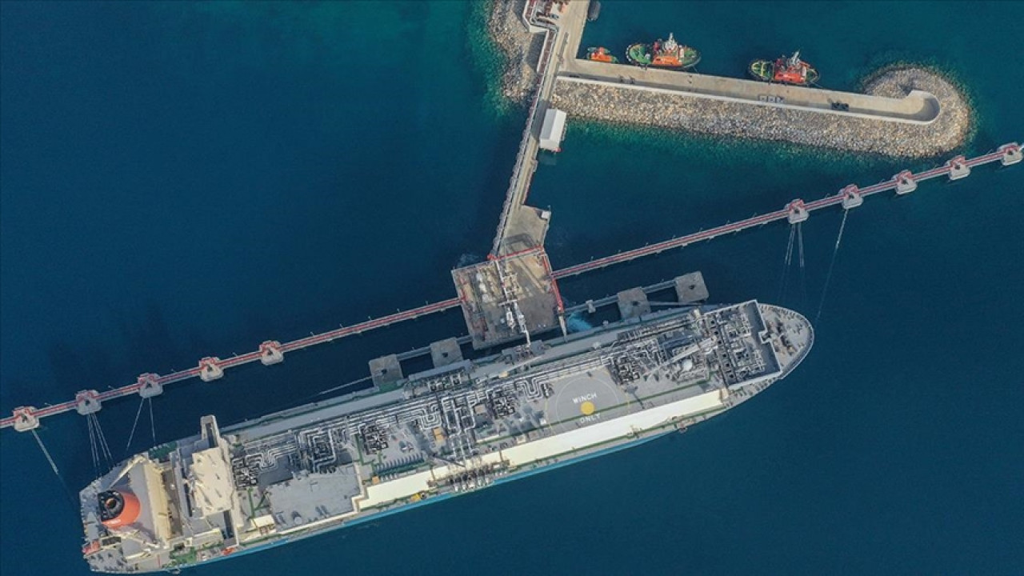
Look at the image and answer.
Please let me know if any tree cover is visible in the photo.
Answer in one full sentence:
No, no tree cover is visible.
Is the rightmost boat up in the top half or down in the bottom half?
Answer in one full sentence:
The rightmost boat sits in the top half of the picture.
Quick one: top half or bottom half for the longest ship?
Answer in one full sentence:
Seen from above, the longest ship lies in the bottom half of the view.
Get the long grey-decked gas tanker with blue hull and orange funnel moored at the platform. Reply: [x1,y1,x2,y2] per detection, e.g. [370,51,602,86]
[77,301,816,574]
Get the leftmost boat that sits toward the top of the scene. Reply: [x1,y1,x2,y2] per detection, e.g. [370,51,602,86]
[587,47,618,62]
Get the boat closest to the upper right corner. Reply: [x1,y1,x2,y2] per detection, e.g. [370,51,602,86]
[748,55,821,87]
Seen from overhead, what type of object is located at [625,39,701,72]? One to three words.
boat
